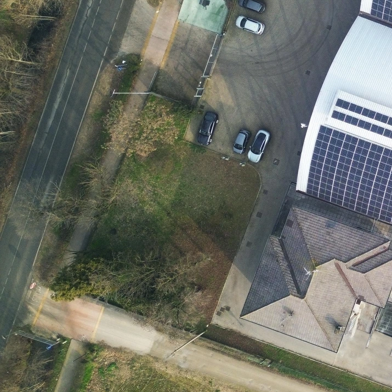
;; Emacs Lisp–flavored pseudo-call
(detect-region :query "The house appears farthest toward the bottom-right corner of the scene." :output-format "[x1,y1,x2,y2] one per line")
[240,207,392,353]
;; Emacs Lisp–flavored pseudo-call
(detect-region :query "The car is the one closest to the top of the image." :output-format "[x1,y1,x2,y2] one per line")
[237,0,267,14]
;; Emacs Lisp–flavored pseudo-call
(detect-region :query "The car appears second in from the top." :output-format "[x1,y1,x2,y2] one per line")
[236,16,267,34]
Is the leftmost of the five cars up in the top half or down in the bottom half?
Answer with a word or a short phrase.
top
